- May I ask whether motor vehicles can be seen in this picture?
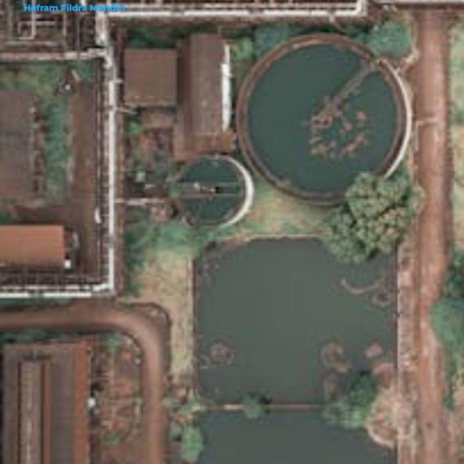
No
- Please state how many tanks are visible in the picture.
two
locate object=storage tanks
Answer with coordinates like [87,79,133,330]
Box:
[238,33,420,202]
[178,155,257,227]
